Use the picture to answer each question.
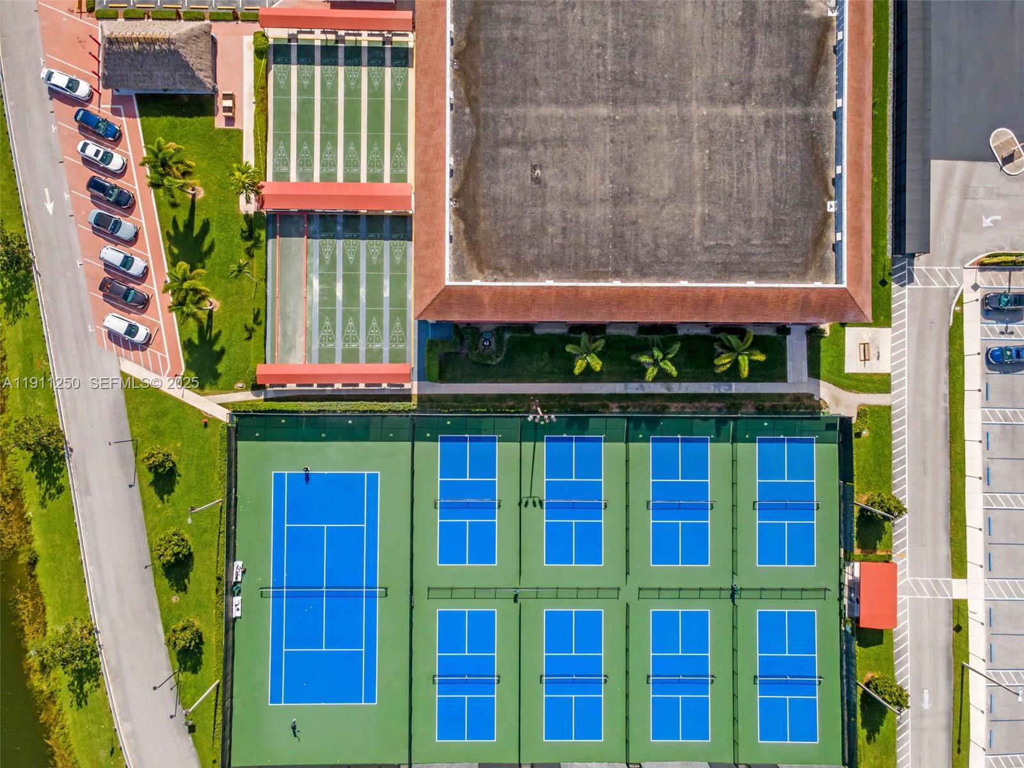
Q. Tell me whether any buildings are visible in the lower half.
Yes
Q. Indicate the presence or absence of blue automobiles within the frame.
Yes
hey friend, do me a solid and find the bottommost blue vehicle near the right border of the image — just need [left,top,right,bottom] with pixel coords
[984,343,1024,366]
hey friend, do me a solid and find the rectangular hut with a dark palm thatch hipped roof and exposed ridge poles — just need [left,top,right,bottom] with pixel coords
[102,21,221,96]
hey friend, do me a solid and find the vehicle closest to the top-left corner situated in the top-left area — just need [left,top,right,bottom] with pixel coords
[39,67,95,102]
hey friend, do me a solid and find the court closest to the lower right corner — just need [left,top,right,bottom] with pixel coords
[757,610,819,743]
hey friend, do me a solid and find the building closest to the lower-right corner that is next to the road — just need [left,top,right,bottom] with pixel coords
[842,560,897,630]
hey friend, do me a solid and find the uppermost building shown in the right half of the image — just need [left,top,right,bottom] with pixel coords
[413,0,875,324]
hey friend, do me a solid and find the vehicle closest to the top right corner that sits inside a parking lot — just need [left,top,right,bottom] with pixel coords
[980,290,1024,313]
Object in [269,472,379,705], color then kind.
blue tennis court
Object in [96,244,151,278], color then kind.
white car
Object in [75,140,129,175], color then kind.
white car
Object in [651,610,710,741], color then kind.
blue sports court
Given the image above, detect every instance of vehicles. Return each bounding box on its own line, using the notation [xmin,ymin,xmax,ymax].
[39,67,95,102]
[96,275,152,310]
[480,330,493,351]
[980,290,1024,313]
[984,343,1024,366]
[85,208,141,243]
[96,244,151,278]
[83,174,138,209]
[99,311,154,346]
[75,140,129,175]
[72,106,124,141]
